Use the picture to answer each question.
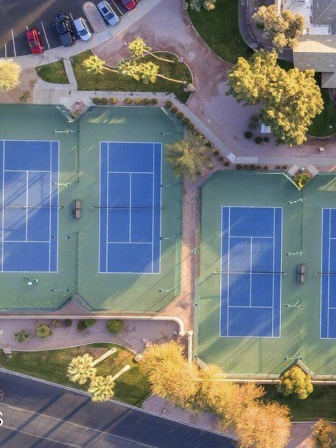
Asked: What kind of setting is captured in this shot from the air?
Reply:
sports ground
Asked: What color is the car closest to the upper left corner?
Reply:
red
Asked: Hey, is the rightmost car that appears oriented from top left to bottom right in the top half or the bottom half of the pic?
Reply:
top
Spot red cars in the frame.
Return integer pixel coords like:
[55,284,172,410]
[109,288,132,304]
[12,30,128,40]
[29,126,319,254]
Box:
[119,0,135,9]
[25,28,45,55]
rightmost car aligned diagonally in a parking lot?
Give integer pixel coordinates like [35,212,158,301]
[96,1,120,25]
